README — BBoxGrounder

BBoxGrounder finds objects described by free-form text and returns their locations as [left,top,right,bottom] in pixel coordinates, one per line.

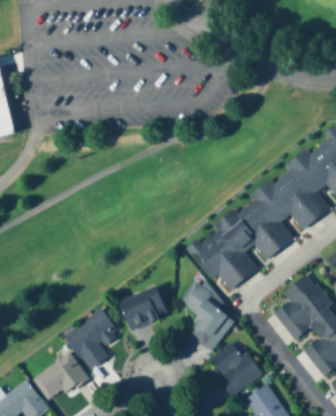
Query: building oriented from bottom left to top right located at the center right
[186,124,336,292]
